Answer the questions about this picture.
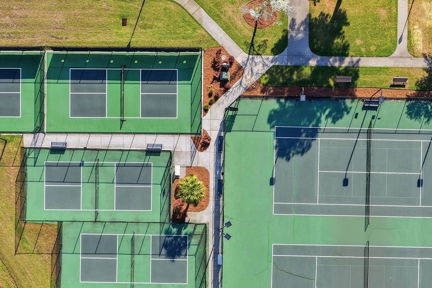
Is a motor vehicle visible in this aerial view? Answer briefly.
No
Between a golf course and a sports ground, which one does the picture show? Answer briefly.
sports ground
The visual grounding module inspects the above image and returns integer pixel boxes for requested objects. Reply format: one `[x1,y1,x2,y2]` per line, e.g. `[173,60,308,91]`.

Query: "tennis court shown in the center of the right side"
[221,100,432,229]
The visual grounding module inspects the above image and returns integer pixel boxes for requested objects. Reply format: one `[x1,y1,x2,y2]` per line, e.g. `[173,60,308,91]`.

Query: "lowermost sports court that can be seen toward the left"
[60,222,208,288]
